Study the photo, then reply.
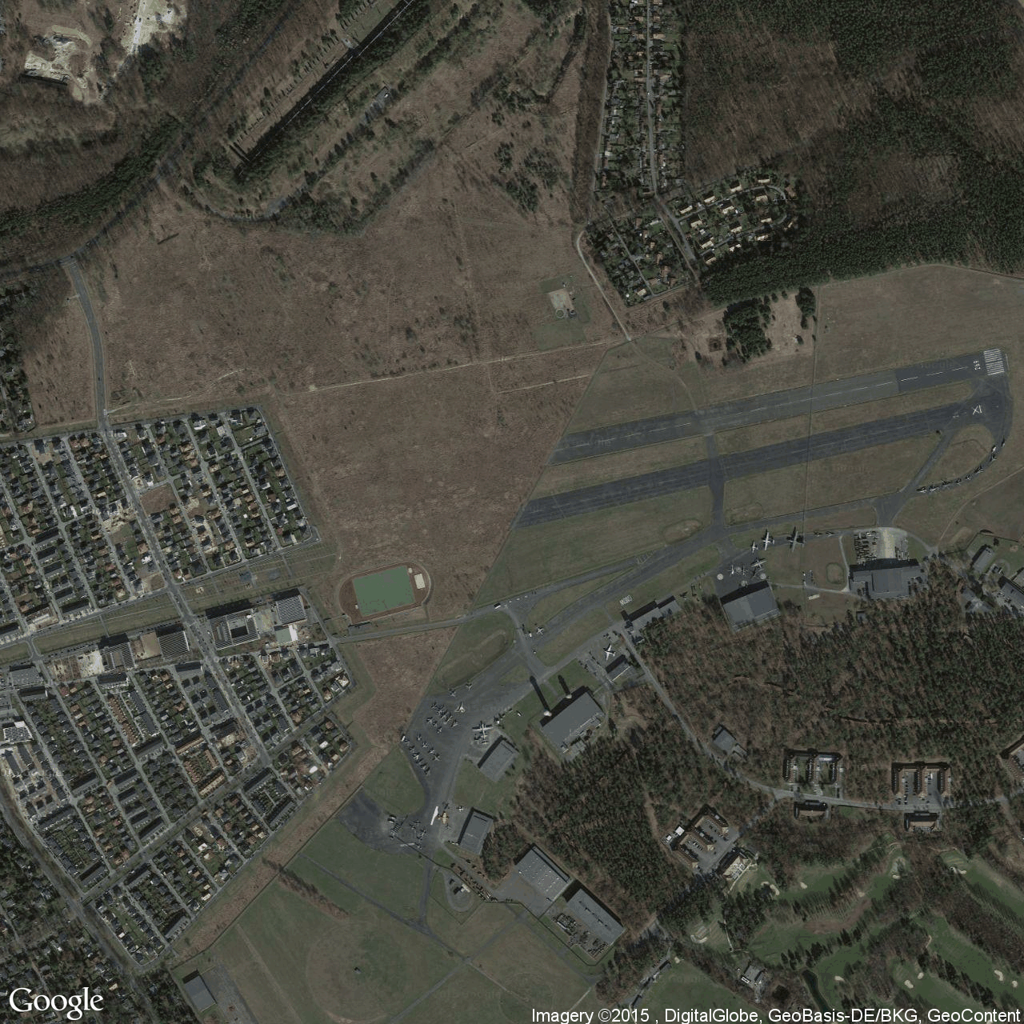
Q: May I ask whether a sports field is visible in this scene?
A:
Yes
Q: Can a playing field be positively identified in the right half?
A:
No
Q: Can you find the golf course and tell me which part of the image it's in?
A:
bottom right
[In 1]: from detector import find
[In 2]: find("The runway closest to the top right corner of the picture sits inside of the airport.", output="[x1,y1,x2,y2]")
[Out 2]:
[896,348,1009,392]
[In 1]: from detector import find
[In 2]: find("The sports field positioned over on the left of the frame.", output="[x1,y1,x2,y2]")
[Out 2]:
[337,560,433,637]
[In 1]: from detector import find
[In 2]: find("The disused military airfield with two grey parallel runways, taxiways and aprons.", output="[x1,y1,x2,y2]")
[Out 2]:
[299,348,1014,1024]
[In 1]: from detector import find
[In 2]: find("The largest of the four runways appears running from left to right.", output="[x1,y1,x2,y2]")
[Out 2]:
[513,390,1013,529]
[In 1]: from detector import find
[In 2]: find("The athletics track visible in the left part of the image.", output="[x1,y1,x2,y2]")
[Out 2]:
[339,562,430,625]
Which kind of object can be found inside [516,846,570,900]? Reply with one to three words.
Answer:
building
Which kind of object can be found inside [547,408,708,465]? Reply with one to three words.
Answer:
runway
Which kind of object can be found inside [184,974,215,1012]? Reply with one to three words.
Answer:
hangar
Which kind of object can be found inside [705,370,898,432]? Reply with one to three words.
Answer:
runway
